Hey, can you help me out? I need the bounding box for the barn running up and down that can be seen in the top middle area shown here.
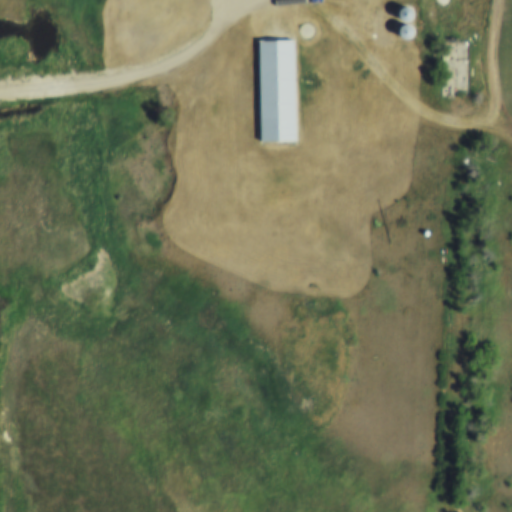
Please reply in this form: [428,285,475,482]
[258,39,298,141]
